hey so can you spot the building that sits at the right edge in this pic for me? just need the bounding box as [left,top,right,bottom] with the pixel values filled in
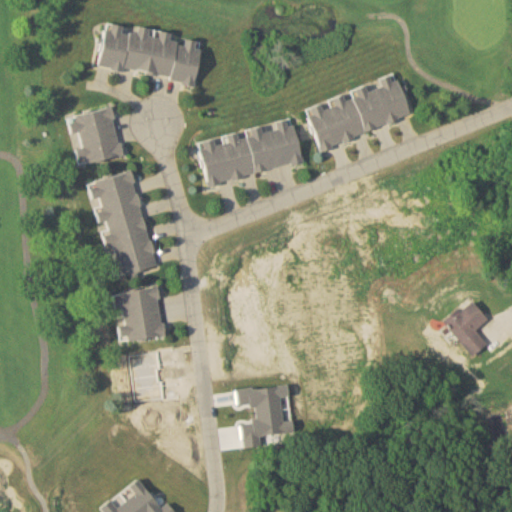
[440,296,488,357]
